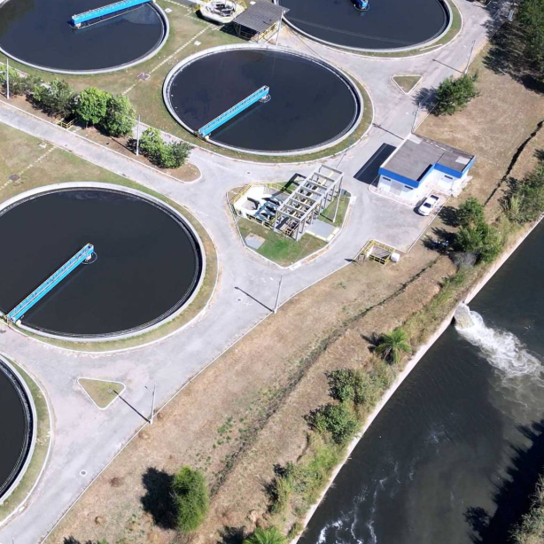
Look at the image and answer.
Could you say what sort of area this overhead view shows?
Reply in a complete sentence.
The picture captures an industrial area.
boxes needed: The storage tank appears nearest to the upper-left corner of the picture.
[0,0,170,74]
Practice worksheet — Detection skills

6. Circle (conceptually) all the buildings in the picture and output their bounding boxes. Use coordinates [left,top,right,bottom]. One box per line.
[377,132,474,203]
[233,0,289,51]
